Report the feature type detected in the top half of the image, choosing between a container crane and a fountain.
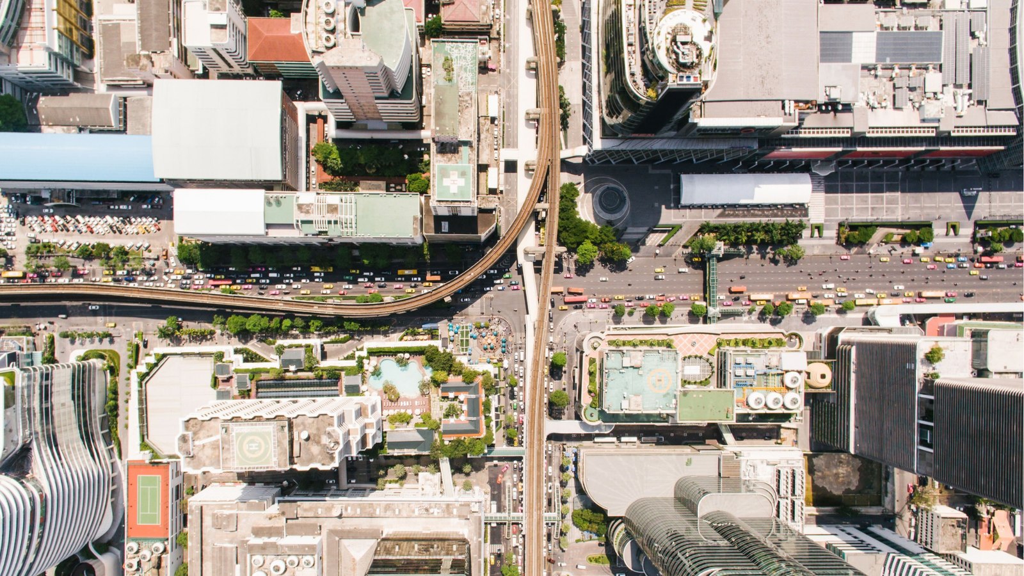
fountain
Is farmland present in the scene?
No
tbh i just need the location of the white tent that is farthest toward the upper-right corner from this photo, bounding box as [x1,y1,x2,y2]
[677,174,813,208]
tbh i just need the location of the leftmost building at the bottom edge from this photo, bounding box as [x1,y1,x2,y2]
[0,357,113,576]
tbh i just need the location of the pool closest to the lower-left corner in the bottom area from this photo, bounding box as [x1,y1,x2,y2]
[369,359,423,398]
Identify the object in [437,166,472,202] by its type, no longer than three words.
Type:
helipad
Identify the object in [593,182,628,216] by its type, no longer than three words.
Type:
fountain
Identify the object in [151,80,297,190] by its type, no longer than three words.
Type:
building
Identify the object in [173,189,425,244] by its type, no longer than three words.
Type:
building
